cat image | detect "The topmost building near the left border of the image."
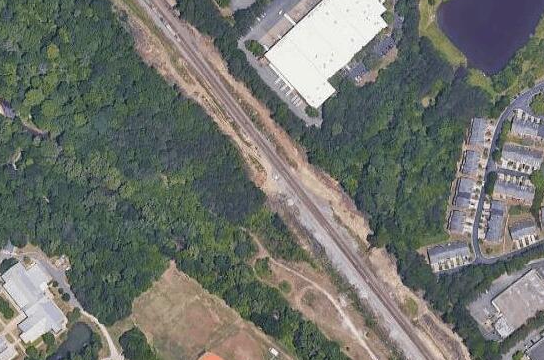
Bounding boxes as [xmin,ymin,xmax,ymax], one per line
[0,262,52,312]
